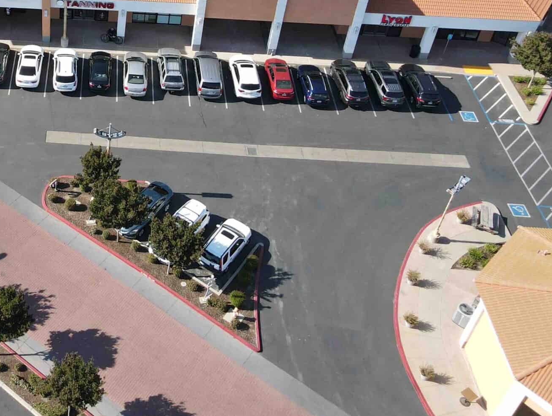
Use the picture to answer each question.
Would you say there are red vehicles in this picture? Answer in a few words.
Yes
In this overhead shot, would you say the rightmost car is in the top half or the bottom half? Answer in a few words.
top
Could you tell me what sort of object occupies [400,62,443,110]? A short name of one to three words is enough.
car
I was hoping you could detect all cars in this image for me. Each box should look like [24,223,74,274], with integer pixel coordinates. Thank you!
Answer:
[232,55,262,99]
[171,195,212,238]
[121,54,150,98]
[87,52,114,93]
[333,60,371,107]
[54,47,82,93]
[119,179,176,239]
[367,60,407,107]
[0,42,12,85]
[17,45,45,88]
[197,217,260,282]
[400,62,443,110]
[193,52,224,100]
[264,58,296,101]
[158,46,186,92]
[296,61,331,106]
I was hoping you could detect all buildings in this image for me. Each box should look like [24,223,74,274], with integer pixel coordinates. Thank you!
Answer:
[453,226,552,416]
[0,0,552,65]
